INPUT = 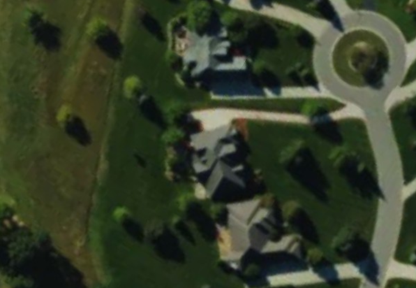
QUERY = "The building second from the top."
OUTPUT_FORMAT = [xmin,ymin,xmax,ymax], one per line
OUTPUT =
[188,118,259,205]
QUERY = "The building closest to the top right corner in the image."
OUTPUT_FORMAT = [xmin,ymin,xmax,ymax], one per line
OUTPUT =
[175,26,249,83]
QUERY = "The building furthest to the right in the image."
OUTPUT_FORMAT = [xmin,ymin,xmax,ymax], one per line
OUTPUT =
[225,193,311,263]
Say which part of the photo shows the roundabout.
top right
